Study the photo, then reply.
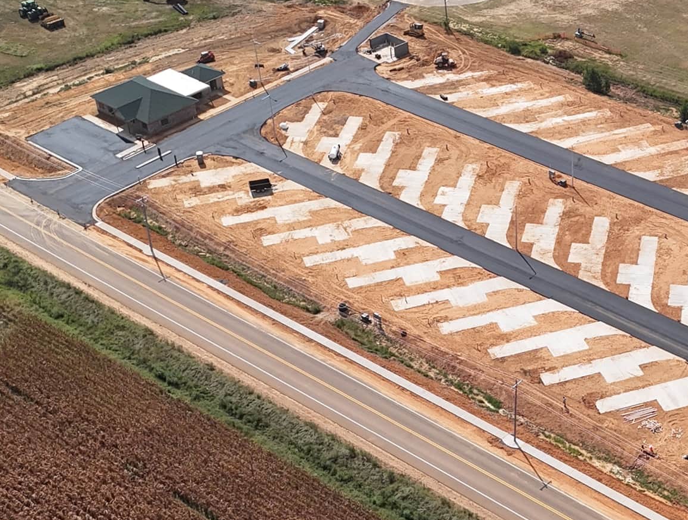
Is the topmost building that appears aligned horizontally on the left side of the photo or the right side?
left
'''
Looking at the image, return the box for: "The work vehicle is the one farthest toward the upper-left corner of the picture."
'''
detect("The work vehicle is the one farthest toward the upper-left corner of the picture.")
[20,0,48,20]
